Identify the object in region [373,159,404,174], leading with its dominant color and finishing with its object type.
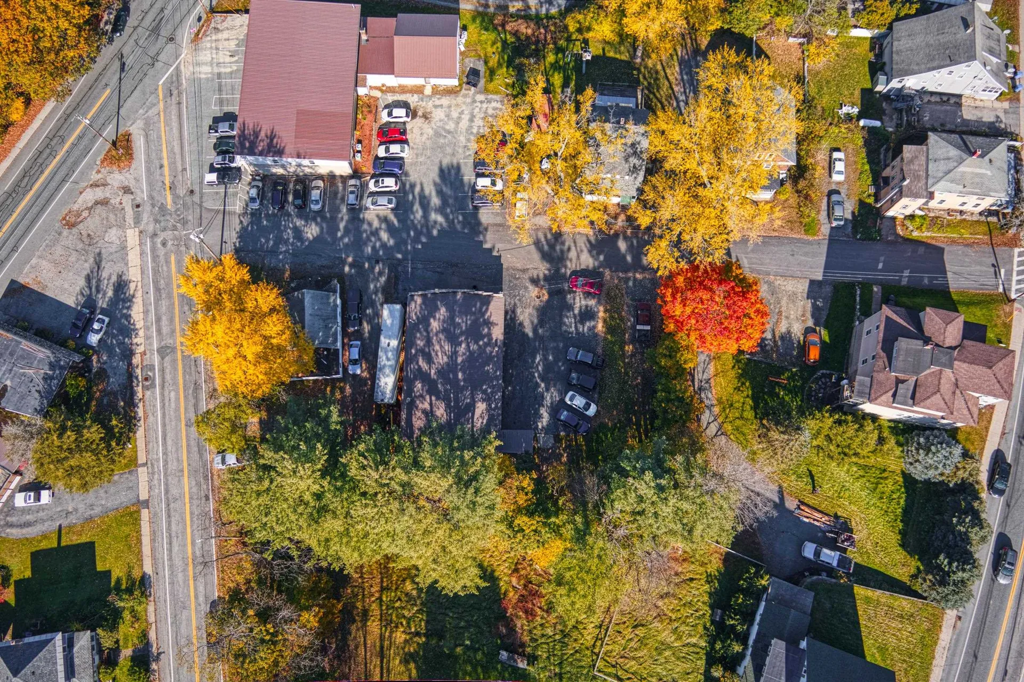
blue car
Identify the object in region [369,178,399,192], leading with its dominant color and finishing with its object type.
white car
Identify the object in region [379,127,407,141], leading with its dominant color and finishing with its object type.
red car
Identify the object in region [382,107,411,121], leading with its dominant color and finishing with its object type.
white car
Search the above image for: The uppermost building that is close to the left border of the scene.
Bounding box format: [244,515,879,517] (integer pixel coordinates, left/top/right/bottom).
[0,323,96,418]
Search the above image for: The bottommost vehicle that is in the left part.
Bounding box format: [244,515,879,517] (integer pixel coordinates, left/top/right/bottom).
[14,489,56,507]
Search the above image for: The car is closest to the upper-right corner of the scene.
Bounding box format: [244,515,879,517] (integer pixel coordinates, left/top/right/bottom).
[828,152,845,181]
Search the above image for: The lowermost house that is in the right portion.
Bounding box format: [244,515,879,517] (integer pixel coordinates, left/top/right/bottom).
[717,575,897,682]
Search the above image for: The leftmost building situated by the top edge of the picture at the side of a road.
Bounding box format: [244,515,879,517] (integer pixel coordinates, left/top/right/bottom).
[236,0,365,175]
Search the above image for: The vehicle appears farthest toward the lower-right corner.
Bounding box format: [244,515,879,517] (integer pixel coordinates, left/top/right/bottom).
[993,545,1015,584]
